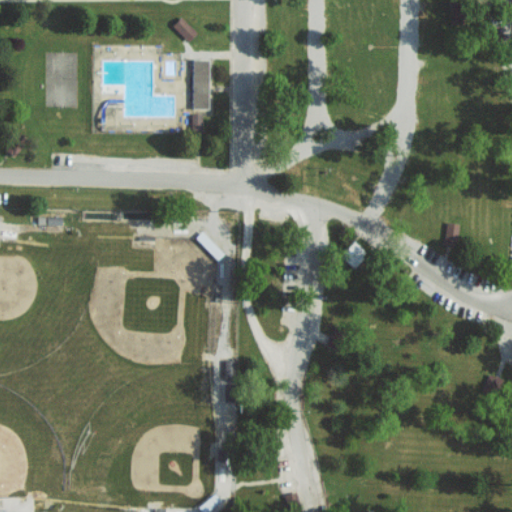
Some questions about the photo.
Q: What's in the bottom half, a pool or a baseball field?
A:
baseball field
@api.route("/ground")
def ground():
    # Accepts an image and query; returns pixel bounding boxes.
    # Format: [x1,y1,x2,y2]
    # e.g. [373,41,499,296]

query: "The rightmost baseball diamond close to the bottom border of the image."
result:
[132,424,204,498]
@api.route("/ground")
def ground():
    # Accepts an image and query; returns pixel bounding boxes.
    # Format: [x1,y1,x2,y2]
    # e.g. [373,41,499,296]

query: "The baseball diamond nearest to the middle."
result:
[90,267,187,364]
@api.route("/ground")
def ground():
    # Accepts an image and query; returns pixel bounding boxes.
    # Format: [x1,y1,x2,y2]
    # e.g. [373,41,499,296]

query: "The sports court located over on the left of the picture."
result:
[46,52,78,108]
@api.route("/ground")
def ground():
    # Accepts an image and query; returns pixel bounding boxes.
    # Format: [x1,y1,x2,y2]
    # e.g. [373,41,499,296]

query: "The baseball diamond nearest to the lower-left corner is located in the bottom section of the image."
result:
[0,424,28,496]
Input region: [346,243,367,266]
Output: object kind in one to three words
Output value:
building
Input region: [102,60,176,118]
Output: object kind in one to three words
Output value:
swimming pool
